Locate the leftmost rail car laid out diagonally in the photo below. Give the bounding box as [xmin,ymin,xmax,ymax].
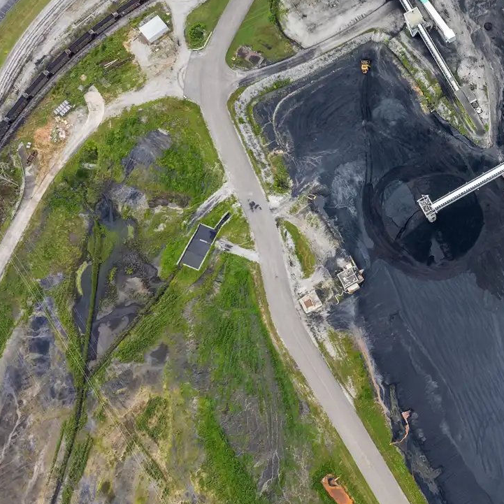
[0,91,25,119]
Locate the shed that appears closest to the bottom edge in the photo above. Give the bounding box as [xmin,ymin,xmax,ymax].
[300,290,324,314]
